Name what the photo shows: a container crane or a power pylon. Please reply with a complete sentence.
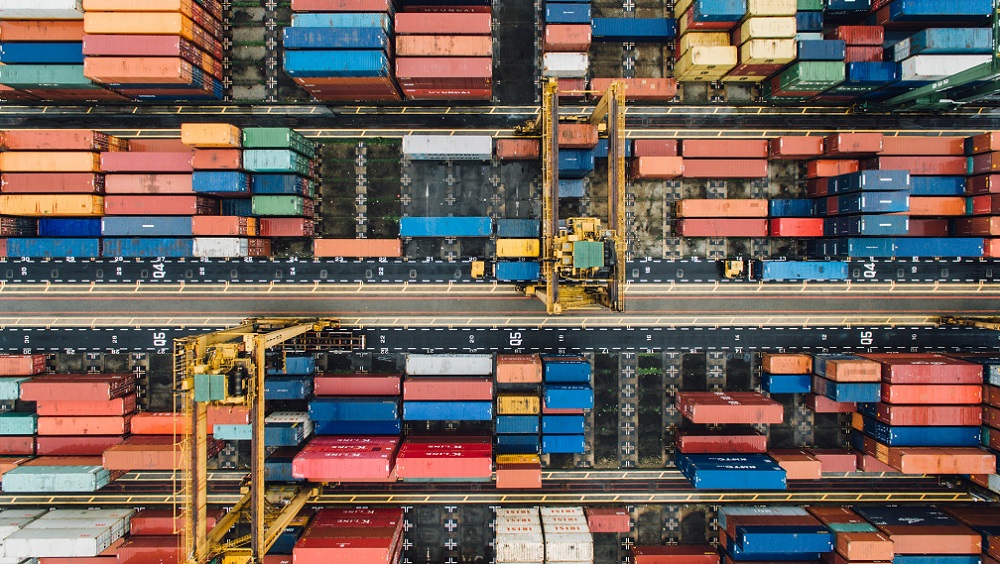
This aerial view contains a container crane.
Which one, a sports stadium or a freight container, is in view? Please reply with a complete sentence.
The image shows a freight container.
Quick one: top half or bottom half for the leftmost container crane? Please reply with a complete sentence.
The leftmost container crane sits in the bottom half of the picture.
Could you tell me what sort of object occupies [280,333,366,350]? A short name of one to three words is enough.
trailer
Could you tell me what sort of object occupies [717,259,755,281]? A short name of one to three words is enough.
work vehicle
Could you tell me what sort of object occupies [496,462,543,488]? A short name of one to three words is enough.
shipping container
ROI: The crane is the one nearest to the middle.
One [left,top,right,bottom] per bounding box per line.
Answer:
[513,74,628,317]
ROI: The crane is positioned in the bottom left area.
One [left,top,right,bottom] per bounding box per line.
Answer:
[174,315,342,564]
